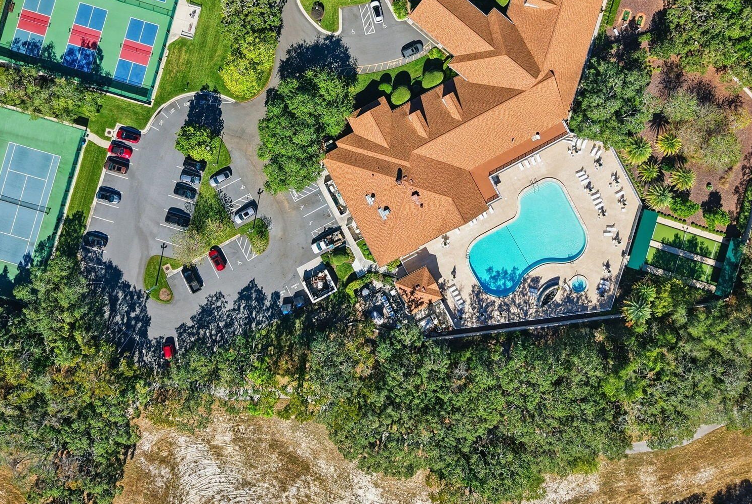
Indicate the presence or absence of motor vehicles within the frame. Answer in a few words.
Yes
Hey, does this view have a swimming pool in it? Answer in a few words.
Yes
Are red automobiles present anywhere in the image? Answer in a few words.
Yes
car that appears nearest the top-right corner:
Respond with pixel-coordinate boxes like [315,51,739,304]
[400,44,424,59]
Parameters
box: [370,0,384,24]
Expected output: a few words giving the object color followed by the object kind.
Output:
white vehicle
